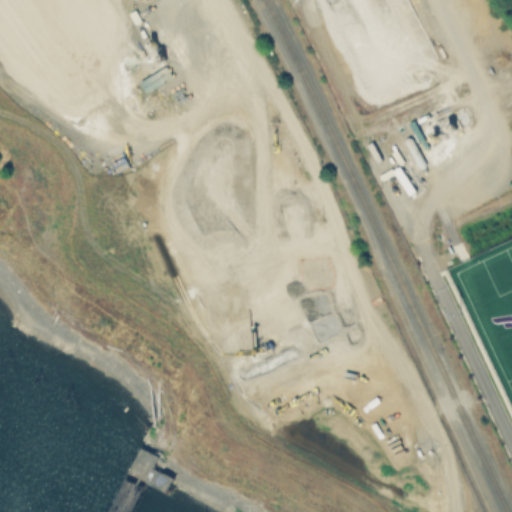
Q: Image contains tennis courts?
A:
No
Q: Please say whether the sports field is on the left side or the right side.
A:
right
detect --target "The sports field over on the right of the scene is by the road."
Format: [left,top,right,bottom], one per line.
[449,240,512,404]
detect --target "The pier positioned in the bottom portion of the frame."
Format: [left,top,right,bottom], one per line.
[104,449,174,512]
